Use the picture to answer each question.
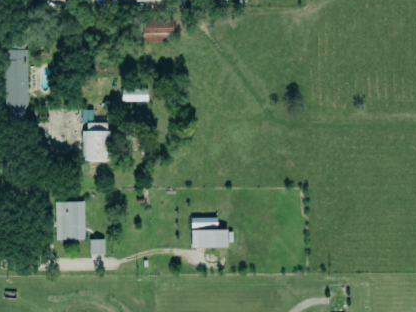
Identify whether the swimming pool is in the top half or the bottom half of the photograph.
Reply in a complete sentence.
You can find the swimming pool in the top half.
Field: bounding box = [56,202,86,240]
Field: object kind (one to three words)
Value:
house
